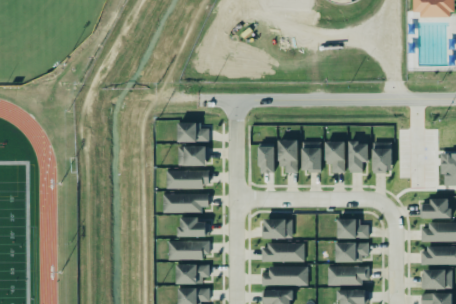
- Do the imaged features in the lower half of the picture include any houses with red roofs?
No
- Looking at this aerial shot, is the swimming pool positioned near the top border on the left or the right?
right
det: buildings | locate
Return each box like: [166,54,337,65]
[421,292,452,304]
[301,142,322,172]
[336,289,366,304]
[328,265,370,286]
[262,242,306,262]
[348,140,368,172]
[324,140,346,172]
[262,266,309,286]
[258,144,275,172]
[334,242,370,262]
[421,222,456,242]
[162,191,210,213]
[421,268,452,289]
[420,198,452,218]
[262,289,294,304]
[178,286,210,304]
[421,245,456,265]
[176,122,210,142]
[277,139,298,172]
[262,218,292,239]
[372,142,393,172]
[178,145,206,166]
[176,216,206,237]
[412,0,454,17]
[176,263,210,284]
[168,240,210,260]
[336,218,370,239]
[166,170,210,189]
